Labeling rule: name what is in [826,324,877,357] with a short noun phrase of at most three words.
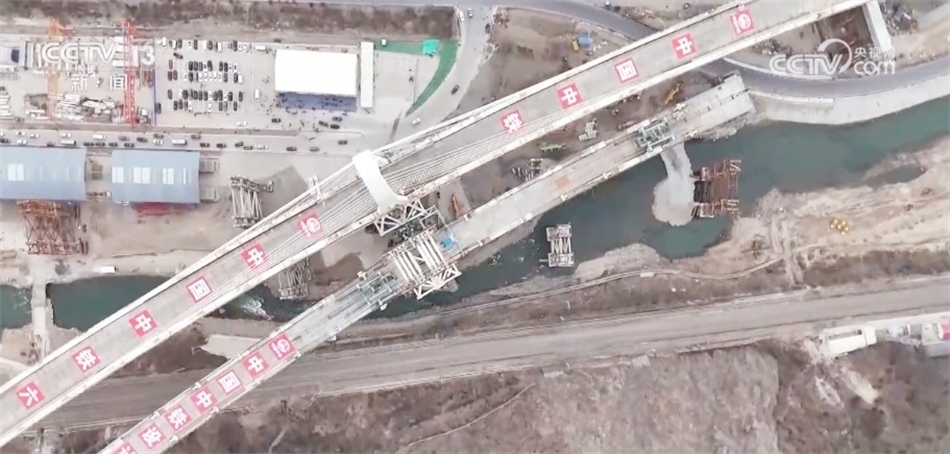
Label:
building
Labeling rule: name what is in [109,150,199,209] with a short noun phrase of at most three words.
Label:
shed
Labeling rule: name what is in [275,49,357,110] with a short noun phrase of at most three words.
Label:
building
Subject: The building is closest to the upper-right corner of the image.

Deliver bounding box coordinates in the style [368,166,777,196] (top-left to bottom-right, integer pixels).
[864,0,894,54]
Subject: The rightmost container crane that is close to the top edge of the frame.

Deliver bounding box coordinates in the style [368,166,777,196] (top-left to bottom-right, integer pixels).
[122,7,149,128]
